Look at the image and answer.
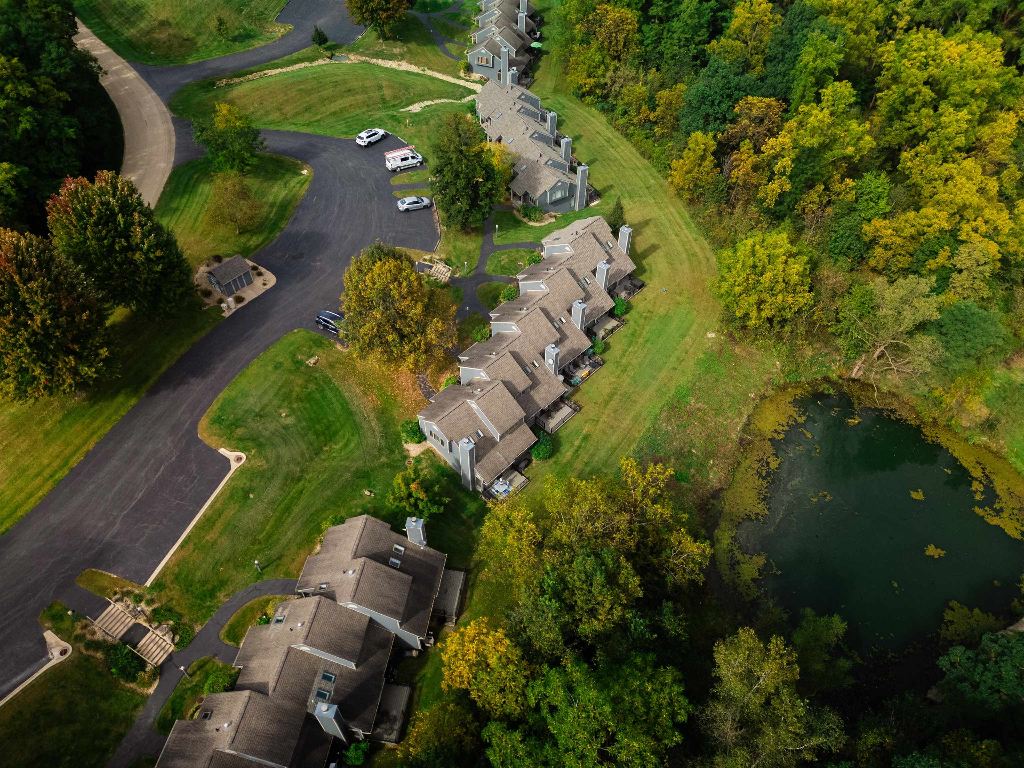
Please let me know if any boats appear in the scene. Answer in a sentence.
No, I can't see a single boat in this photo.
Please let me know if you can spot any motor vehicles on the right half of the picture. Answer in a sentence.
No, I can find no motor vehicle on the right half of the picture.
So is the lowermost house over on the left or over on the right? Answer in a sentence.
You can find the lowermost house on the left side of the picture.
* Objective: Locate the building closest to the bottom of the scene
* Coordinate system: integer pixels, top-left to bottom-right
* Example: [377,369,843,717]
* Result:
[156,692,334,768]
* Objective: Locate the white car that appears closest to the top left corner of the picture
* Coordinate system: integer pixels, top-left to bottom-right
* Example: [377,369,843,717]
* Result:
[356,128,388,147]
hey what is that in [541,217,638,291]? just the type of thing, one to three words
house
